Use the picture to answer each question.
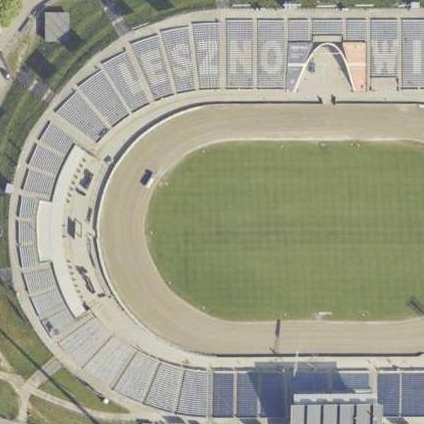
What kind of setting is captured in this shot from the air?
sports ground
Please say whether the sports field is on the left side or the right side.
right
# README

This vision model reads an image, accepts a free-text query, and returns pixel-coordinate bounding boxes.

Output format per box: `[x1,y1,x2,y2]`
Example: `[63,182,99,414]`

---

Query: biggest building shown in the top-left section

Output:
[45,13,69,43]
